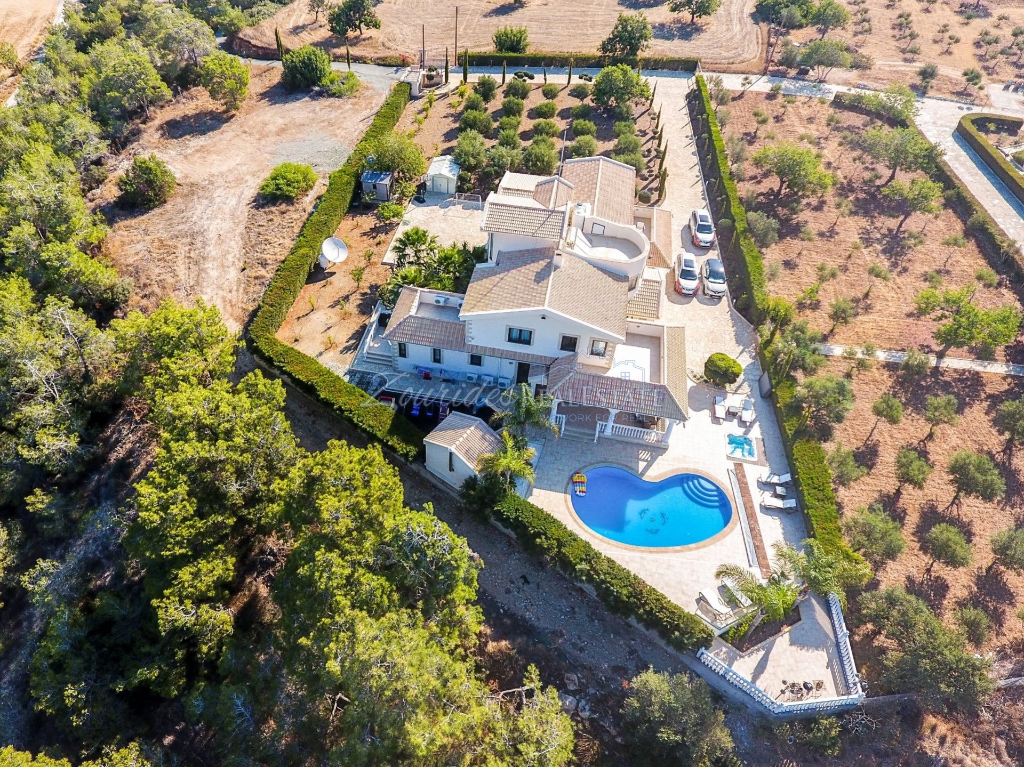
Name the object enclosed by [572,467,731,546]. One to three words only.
swimming pool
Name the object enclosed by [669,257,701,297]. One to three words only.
car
